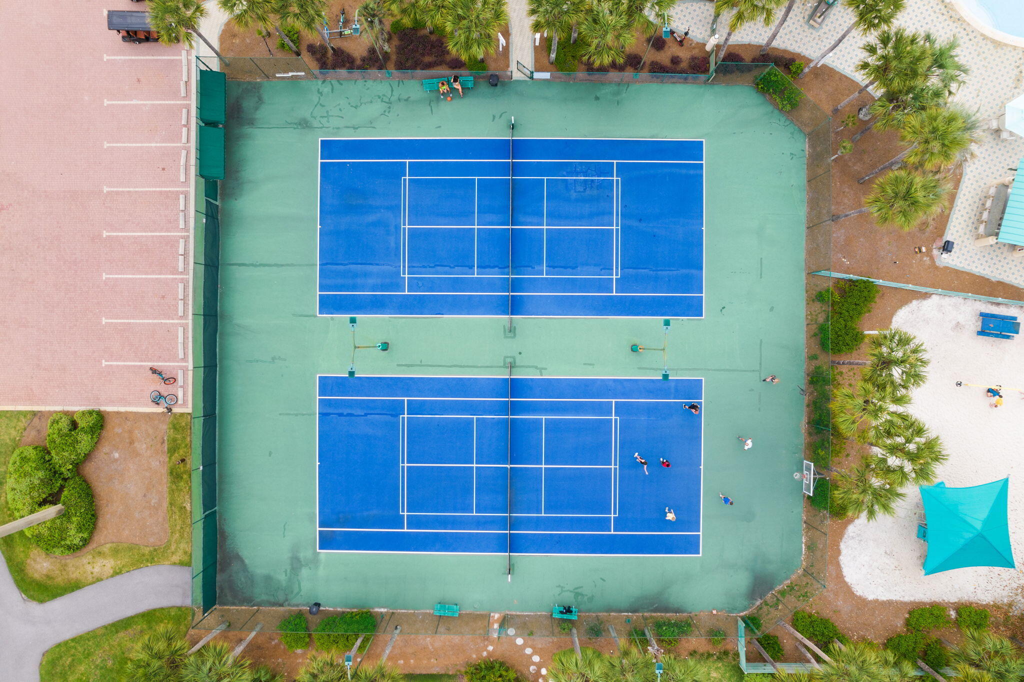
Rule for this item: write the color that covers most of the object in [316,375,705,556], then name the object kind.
blue tennis court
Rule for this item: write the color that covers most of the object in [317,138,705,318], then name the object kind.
blue tennis court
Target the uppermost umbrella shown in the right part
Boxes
[999,91,1024,145]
